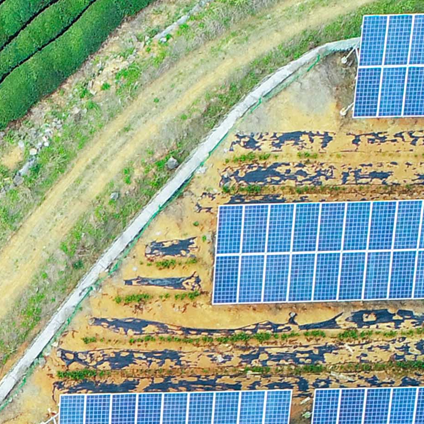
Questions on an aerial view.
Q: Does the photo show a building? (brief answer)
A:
No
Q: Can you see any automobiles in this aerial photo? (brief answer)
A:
No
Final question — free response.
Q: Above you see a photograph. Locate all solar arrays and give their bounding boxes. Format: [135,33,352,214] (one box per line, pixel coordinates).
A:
[339,15,424,117]
[303,387,424,424]
[210,201,424,304]
[56,390,292,424]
